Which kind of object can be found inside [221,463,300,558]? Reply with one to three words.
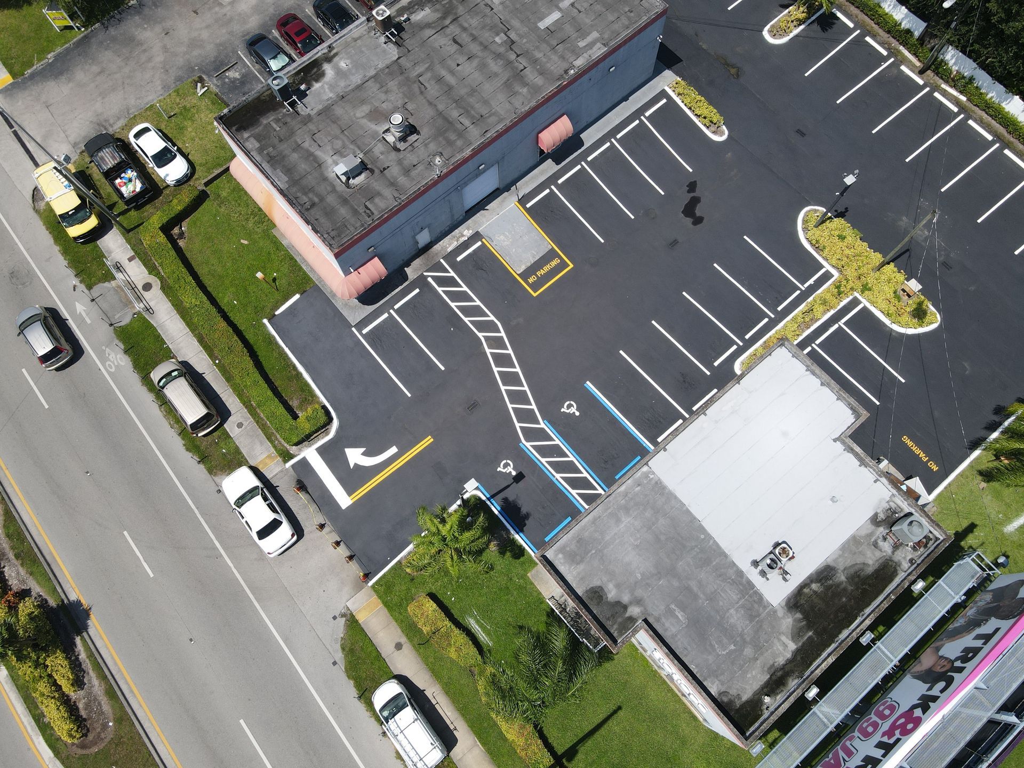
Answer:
car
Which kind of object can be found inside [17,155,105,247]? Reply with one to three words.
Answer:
vehicle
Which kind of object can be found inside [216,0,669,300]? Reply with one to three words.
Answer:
building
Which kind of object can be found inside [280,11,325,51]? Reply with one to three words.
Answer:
car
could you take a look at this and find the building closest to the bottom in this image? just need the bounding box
[532,336,954,750]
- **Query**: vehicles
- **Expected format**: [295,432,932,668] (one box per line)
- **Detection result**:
[153,358,224,442]
[280,11,325,51]
[221,463,300,558]
[18,304,74,374]
[248,32,293,73]
[374,675,454,768]
[87,134,159,219]
[315,0,353,31]
[131,120,190,190]
[369,0,382,7]
[17,155,105,247]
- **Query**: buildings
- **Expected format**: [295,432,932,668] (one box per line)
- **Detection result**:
[216,0,669,300]
[532,336,954,750]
